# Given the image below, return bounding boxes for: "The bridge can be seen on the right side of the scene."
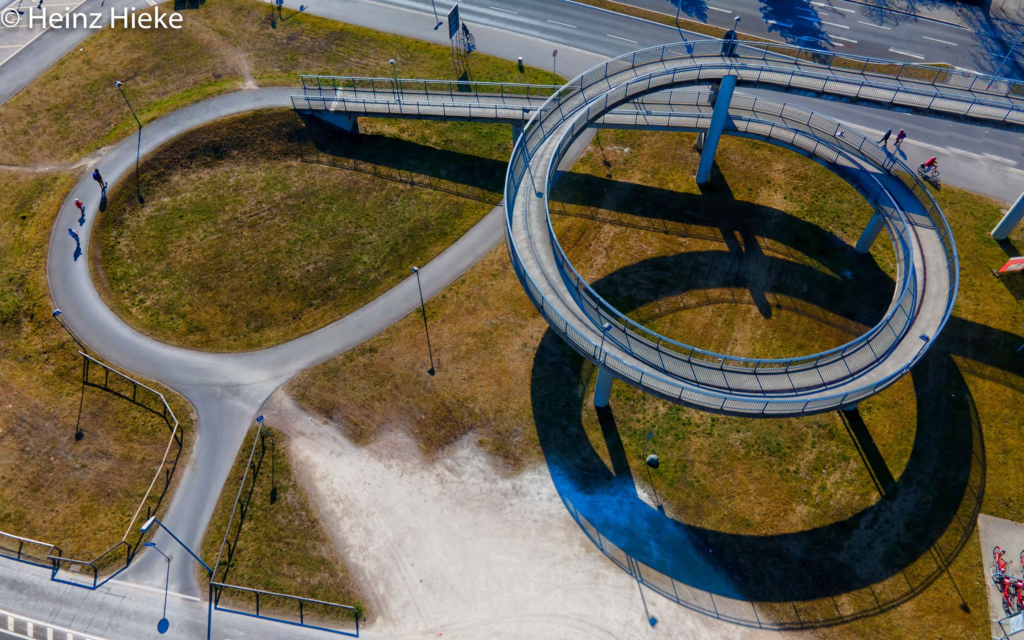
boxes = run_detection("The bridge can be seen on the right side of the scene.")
[289,31,1024,418]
